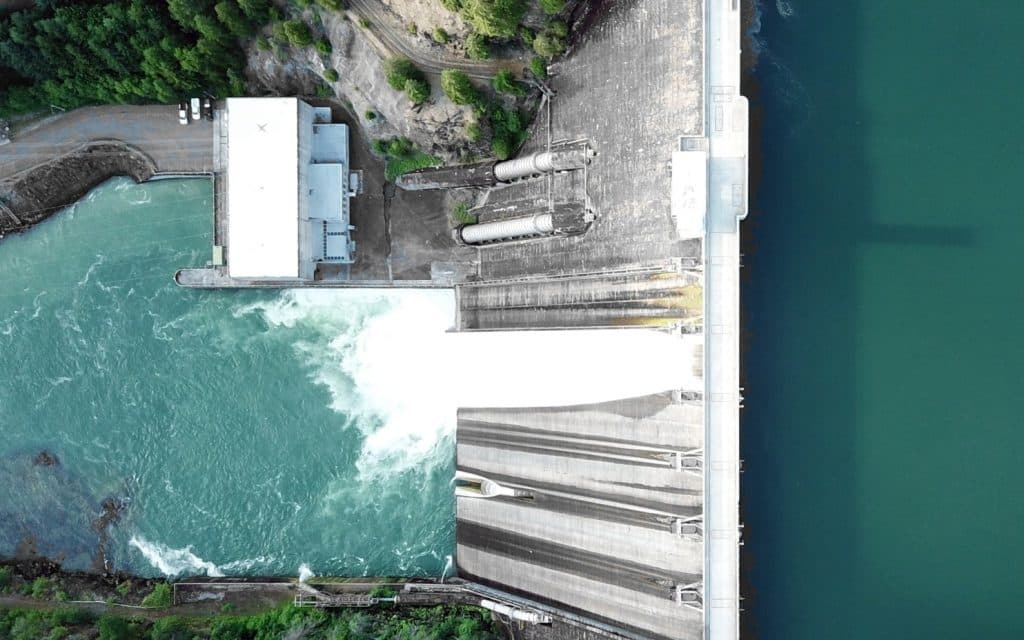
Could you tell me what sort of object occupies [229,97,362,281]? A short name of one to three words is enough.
building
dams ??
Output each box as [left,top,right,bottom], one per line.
[454,0,748,640]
